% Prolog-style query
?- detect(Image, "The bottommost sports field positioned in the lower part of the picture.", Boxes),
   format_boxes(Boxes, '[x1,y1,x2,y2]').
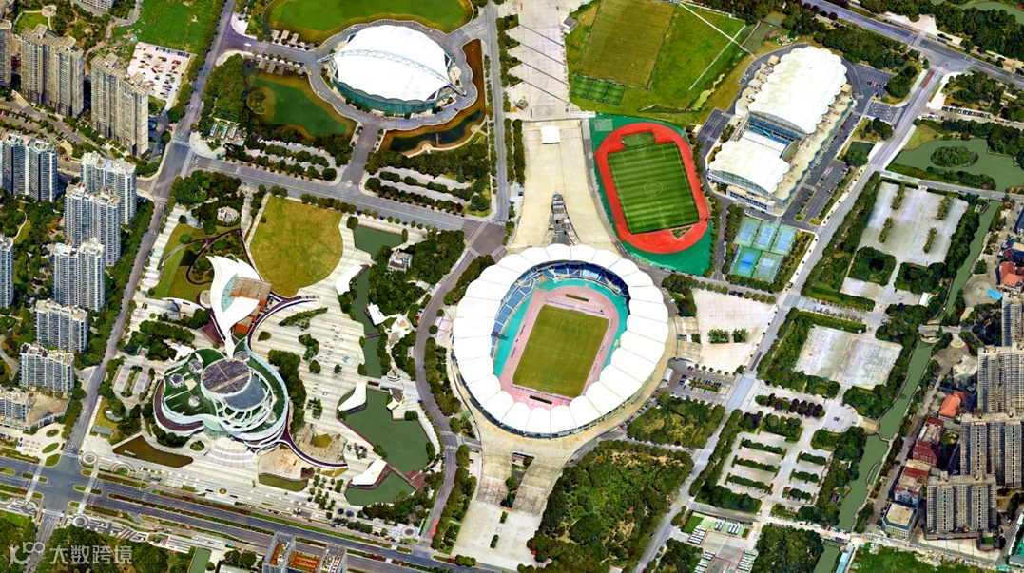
[515,304,607,397]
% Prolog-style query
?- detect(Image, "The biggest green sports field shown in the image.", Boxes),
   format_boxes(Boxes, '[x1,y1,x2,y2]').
[588,110,713,277]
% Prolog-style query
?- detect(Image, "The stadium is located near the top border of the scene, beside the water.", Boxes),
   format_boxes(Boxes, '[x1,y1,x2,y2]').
[314,25,469,117]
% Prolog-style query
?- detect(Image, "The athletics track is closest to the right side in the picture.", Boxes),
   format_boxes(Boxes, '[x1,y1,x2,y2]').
[593,123,709,253]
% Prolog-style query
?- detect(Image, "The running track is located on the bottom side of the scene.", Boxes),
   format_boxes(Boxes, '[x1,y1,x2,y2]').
[502,282,619,411]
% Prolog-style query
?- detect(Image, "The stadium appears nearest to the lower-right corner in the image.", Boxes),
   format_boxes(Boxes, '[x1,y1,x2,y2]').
[450,241,671,448]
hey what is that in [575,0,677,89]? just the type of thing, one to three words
soccer field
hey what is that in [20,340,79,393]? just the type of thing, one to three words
building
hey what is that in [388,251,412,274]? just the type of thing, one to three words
house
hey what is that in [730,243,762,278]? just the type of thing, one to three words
tennis court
